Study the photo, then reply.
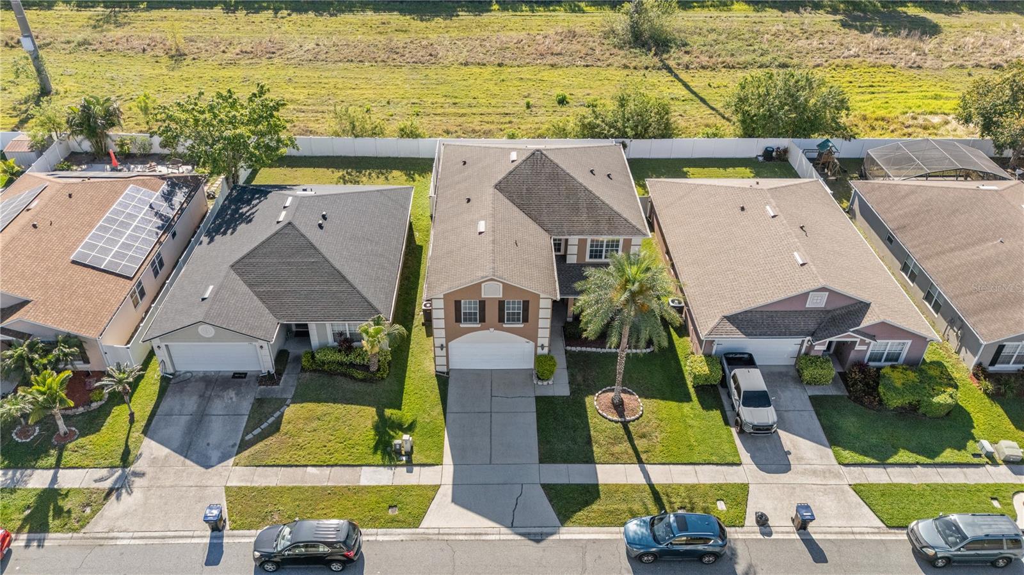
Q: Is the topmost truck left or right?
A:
right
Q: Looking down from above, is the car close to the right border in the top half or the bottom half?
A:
bottom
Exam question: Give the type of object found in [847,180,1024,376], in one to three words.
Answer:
house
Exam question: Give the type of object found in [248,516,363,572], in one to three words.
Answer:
car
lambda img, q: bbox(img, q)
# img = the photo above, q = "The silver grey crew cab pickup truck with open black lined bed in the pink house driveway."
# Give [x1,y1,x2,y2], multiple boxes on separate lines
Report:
[721,352,785,439]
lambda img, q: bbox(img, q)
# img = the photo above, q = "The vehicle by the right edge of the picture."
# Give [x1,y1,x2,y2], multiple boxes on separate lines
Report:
[908,513,1024,570]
